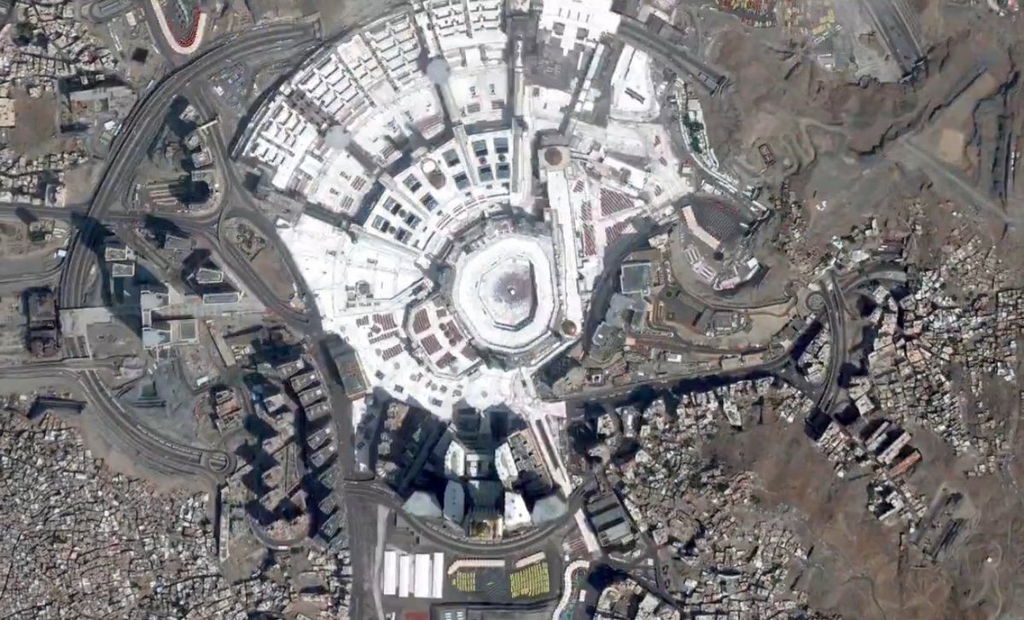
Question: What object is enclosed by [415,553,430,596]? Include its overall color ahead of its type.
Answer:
white tent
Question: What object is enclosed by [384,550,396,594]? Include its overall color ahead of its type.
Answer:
white tent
